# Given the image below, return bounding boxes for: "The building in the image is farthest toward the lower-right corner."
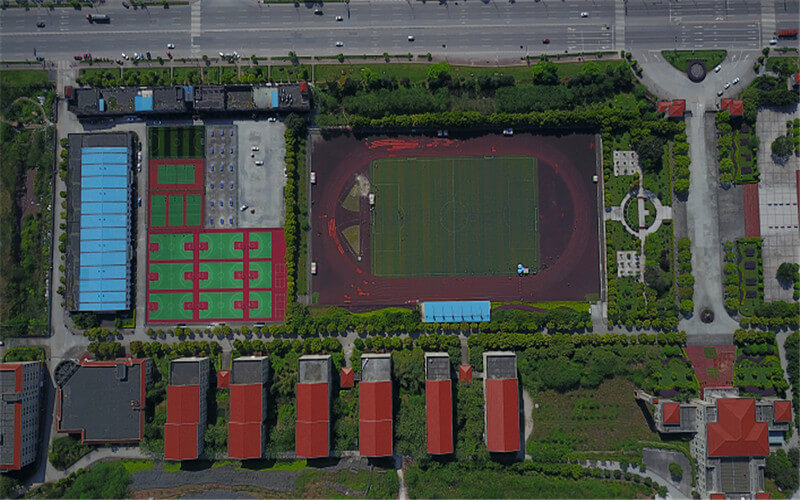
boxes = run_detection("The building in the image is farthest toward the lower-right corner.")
[651,381,791,500]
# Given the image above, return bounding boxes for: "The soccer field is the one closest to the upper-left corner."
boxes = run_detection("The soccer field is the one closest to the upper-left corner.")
[148,126,204,158]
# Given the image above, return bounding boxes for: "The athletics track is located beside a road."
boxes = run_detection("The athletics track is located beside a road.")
[312,130,601,306]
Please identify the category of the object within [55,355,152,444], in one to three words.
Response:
building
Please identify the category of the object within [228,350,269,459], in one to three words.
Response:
building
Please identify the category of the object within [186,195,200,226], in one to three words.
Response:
tennis court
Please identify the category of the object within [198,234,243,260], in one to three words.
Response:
basketball court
